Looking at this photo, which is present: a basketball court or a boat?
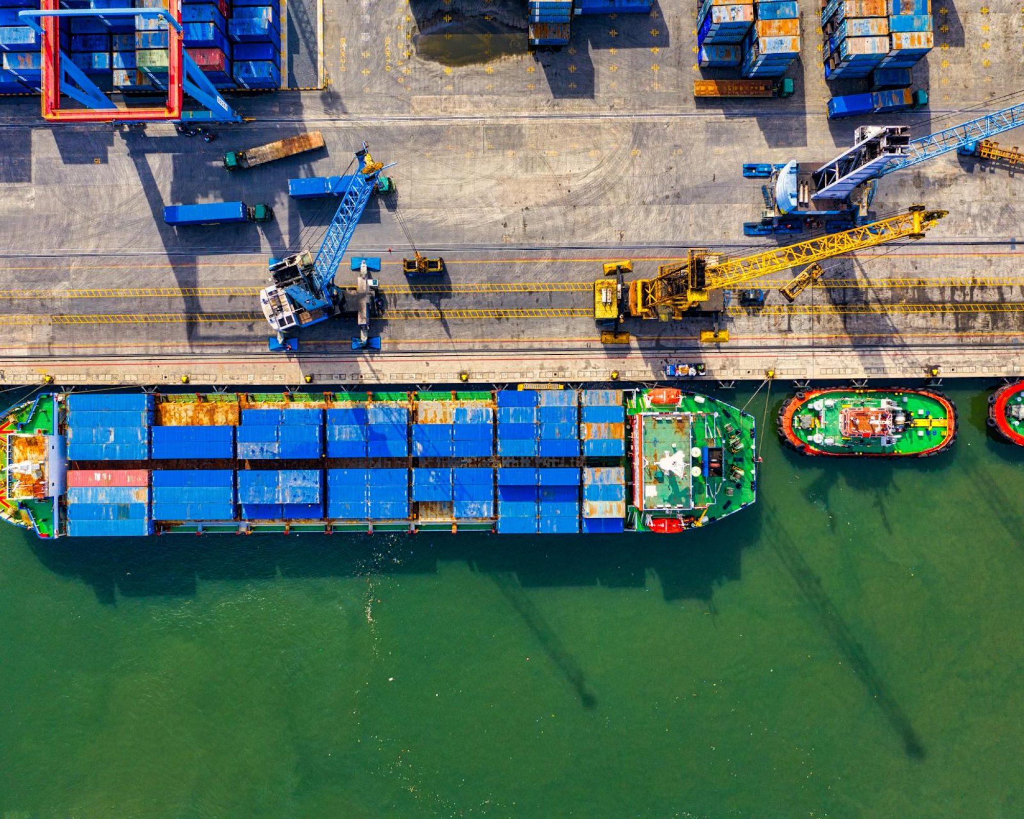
boat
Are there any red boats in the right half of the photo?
Yes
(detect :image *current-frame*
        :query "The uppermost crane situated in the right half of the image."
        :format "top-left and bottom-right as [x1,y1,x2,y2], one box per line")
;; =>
[742,94,1024,236]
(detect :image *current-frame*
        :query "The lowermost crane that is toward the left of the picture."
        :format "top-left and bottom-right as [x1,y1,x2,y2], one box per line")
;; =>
[261,140,423,351]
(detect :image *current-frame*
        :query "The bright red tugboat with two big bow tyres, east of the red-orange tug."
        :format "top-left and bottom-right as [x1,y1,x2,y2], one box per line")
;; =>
[985,383,1024,442]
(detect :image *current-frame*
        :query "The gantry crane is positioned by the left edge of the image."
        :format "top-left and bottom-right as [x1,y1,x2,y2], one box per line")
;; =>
[17,0,258,127]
